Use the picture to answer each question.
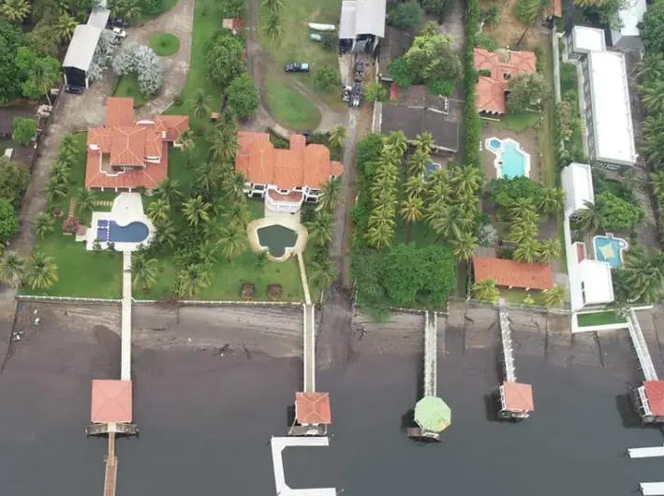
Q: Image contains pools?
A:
Yes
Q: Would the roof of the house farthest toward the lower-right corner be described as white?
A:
Yes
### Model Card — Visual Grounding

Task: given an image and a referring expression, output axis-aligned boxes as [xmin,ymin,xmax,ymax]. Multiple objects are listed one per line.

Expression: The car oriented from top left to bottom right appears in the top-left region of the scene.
[110,24,130,38]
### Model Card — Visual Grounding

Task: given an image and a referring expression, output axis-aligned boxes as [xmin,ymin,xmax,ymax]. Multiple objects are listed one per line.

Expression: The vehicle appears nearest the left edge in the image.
[67,73,81,91]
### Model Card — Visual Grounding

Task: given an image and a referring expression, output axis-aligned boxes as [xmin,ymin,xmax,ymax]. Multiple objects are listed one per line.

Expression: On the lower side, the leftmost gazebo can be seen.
[91,379,133,425]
